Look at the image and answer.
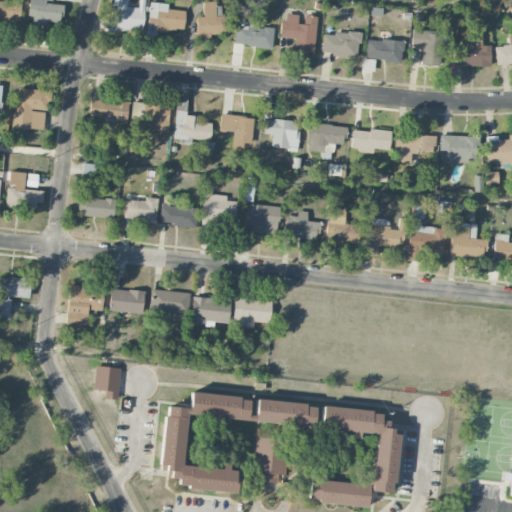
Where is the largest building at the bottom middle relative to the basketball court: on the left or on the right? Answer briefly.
to its left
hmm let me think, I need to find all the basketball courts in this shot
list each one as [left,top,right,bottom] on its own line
[459,396,512,483]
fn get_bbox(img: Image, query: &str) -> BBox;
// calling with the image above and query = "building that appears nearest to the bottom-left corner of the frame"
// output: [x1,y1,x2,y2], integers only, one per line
[95,366,128,400]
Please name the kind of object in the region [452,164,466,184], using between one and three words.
swimming pool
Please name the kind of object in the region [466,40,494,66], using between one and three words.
house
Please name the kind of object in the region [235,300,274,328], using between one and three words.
house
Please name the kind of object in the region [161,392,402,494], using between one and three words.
building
